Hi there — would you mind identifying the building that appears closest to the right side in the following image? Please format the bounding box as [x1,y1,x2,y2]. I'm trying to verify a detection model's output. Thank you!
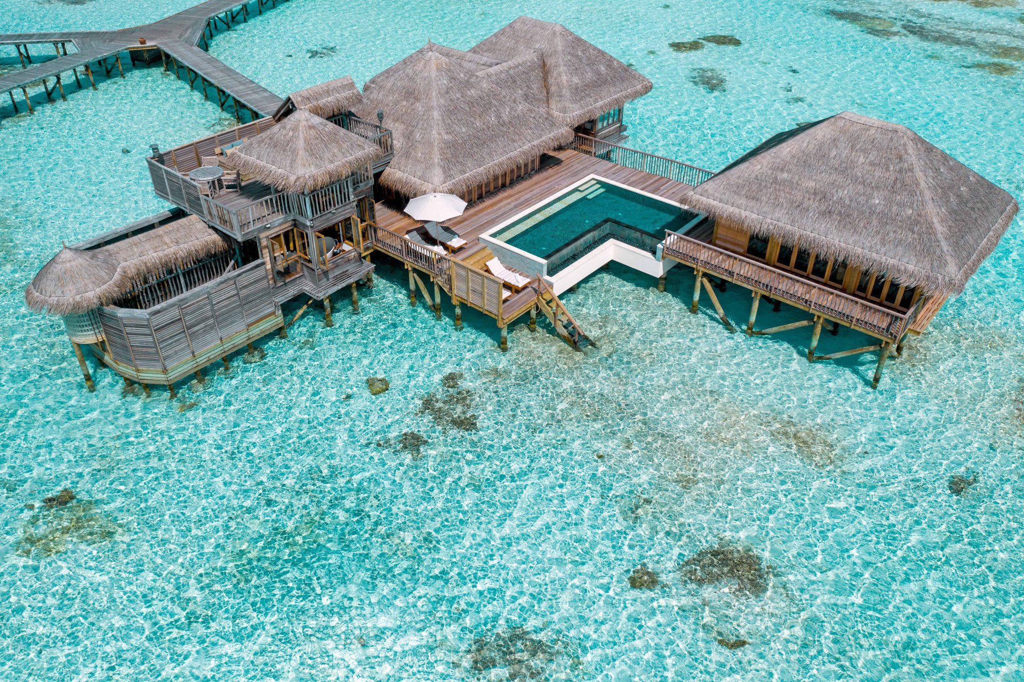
[668,111,1024,384]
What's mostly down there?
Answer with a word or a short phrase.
water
